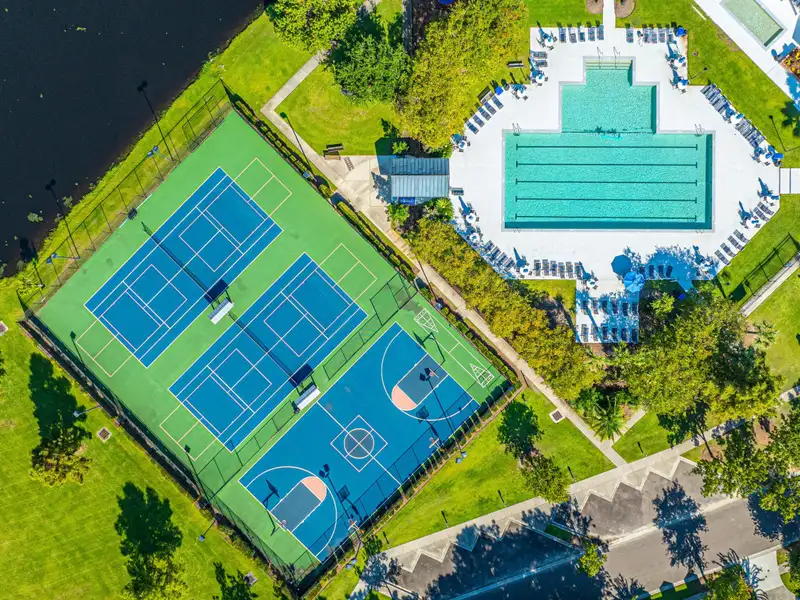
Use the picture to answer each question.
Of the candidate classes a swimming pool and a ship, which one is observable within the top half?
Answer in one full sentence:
Looking within the top half, you will find a swimming pool.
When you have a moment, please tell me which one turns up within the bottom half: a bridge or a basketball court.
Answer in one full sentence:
The feature located within the bottom half is a basketball court.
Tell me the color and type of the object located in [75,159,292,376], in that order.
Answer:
blue tennis court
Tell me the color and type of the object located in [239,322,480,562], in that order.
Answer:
blue basketball court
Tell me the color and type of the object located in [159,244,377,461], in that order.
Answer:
blue tennis court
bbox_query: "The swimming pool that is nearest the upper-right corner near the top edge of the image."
[714,0,790,52]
